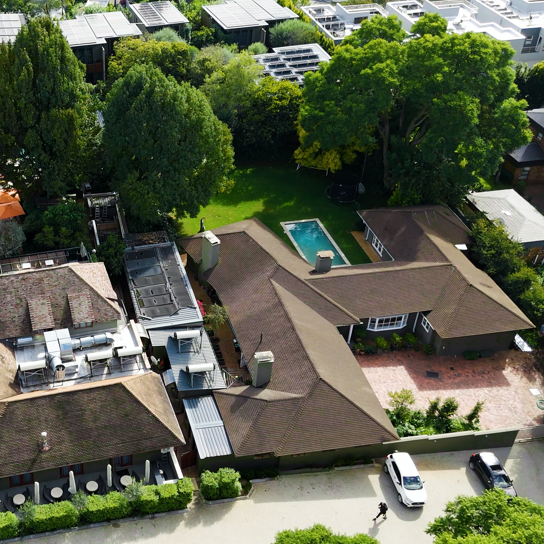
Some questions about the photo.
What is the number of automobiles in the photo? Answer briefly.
2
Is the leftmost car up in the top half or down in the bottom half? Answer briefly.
bottom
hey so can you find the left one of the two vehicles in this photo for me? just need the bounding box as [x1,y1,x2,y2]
[382,445,428,506]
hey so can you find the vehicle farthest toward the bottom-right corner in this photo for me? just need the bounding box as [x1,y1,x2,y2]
[469,446,526,504]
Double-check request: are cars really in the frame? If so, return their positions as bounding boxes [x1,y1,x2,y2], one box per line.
[382,445,428,506]
[469,446,526,504]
